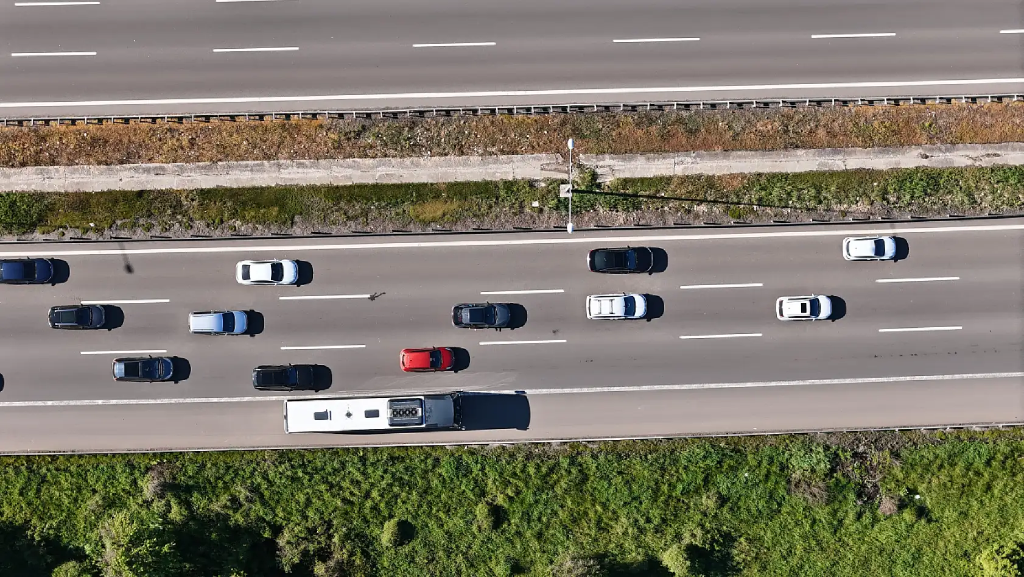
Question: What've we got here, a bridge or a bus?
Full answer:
I can see a bus in this picture.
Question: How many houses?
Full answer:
The photo contains no houses.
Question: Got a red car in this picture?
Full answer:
Yes, the image includes a red car.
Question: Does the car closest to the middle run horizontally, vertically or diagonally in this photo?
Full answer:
In this picture, the car closest to the middle is oriented horizontally.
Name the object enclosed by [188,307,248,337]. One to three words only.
car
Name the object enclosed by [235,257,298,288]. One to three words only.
car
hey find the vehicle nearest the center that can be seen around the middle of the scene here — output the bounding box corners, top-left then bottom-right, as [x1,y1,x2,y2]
[451,300,511,331]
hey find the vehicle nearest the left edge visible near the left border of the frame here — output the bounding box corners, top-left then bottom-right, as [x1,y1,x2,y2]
[0,256,54,287]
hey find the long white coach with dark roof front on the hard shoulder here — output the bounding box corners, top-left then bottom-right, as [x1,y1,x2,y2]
[281,390,464,435]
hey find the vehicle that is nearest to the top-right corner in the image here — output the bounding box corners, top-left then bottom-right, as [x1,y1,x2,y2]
[843,234,896,263]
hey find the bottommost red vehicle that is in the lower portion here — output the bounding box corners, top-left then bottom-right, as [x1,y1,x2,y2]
[399,345,455,375]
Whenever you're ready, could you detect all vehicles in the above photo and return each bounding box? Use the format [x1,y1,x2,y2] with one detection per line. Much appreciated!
[399,345,455,375]
[586,291,647,322]
[451,300,511,331]
[0,256,54,287]
[235,257,298,288]
[188,307,248,337]
[587,244,653,275]
[48,302,106,333]
[776,293,832,323]
[252,362,315,394]
[281,390,464,435]
[843,234,896,263]
[111,354,173,385]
